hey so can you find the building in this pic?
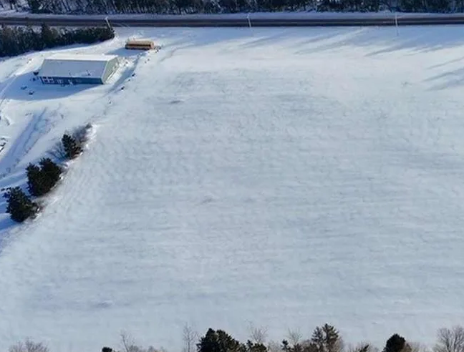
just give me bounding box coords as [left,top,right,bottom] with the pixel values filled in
[38,56,119,85]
